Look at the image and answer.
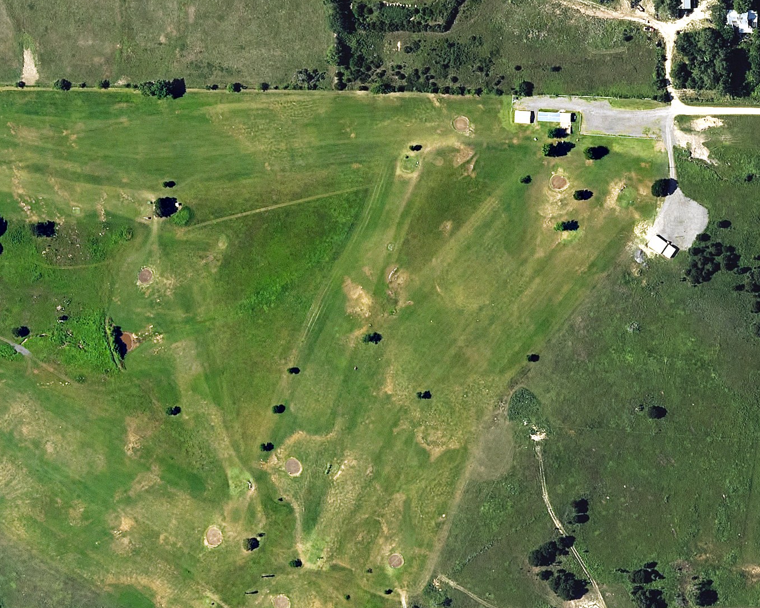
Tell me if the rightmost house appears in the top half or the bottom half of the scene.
top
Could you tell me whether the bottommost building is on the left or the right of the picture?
right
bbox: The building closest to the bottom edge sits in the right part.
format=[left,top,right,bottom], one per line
[648,235,680,261]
